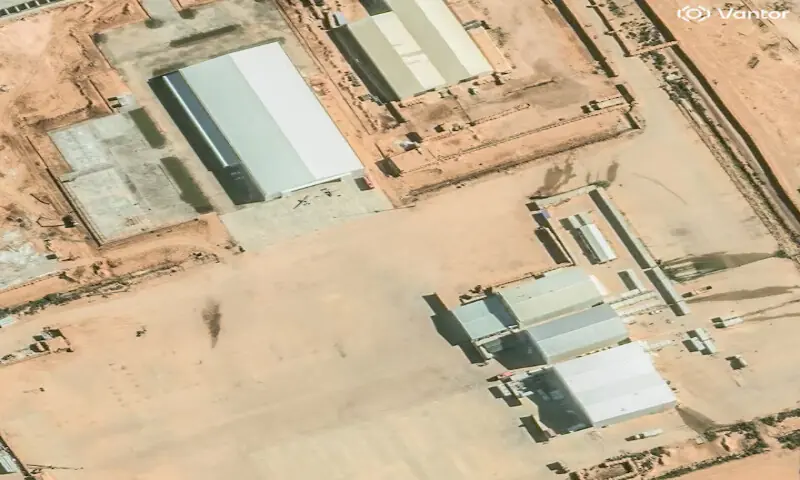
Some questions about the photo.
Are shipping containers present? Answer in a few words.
Yes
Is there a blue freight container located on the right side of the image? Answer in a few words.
No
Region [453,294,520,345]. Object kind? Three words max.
shed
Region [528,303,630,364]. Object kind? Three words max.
shed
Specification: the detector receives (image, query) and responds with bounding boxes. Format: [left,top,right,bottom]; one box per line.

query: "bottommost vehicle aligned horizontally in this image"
[634,425,665,440]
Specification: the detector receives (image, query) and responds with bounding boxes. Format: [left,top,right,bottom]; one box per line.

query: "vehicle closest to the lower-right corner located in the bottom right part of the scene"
[735,355,748,371]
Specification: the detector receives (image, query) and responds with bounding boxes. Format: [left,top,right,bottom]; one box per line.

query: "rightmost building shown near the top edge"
[347,0,495,103]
